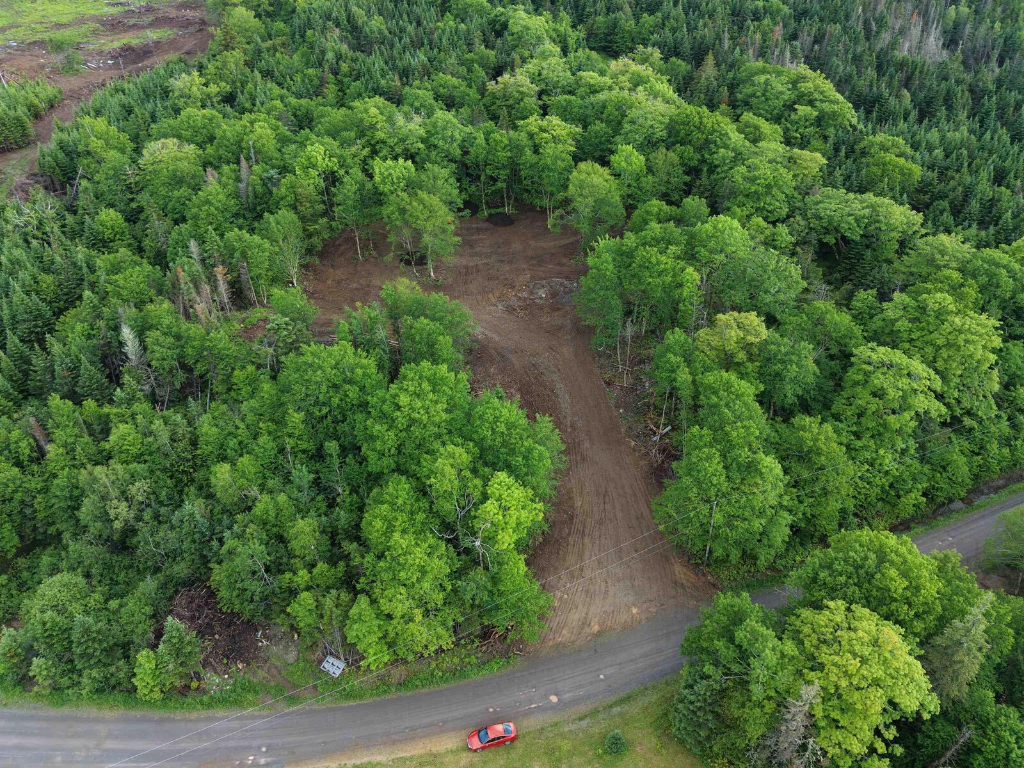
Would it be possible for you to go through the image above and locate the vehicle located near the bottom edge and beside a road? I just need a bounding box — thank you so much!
[466,720,517,753]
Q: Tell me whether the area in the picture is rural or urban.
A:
rural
